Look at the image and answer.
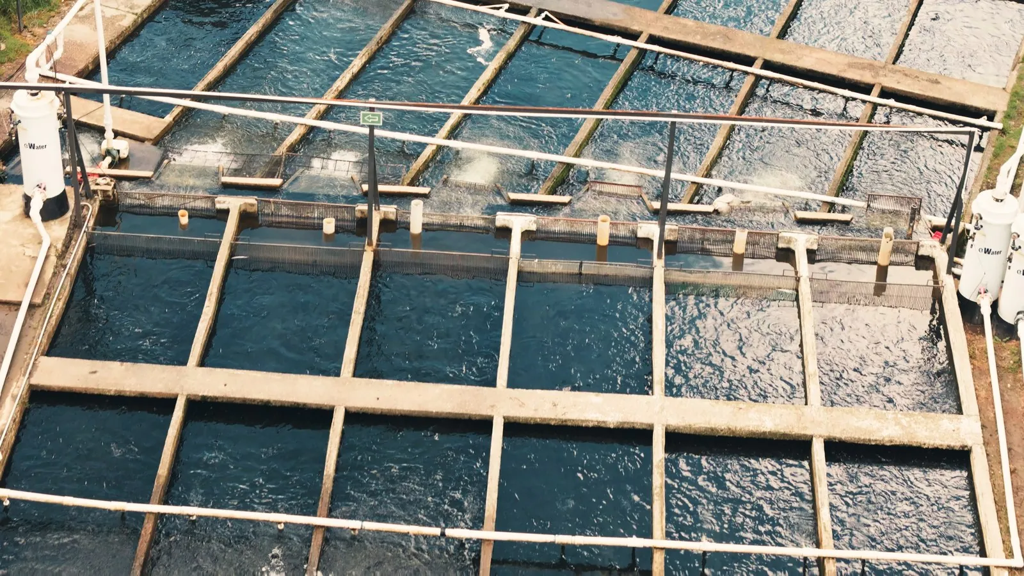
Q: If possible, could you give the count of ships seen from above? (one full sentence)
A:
There are no ships in this view.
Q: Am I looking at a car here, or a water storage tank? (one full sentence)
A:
Of the two, only a water storage tank appears.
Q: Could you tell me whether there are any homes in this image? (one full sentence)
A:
No, the photo shows no home.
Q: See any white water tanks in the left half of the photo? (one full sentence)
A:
Yes, I can see a white water tank in the left half of the photo.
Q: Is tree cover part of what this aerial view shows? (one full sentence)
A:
No, there is no tree cover in the image.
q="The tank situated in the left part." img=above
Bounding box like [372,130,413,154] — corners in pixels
[6,93,67,226]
